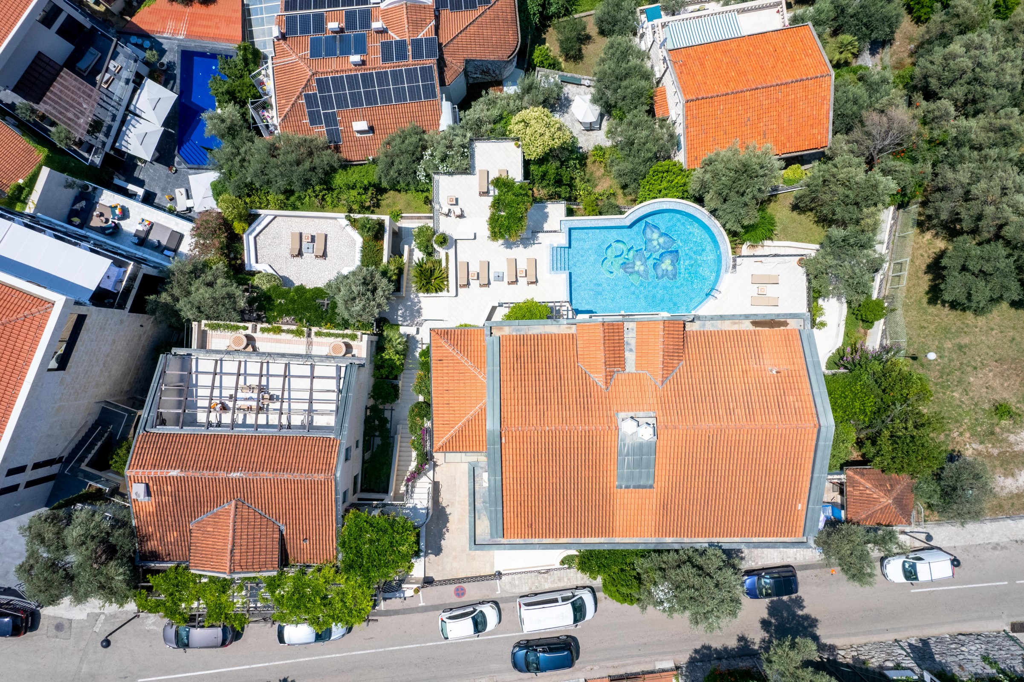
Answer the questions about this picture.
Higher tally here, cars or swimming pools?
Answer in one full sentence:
The cars outnumber the swimming pools.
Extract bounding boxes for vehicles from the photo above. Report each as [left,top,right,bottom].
[741,565,800,601]
[439,600,502,638]
[279,616,348,650]
[880,545,960,586]
[0,606,36,638]
[168,619,236,651]
[509,633,577,675]
[517,588,594,633]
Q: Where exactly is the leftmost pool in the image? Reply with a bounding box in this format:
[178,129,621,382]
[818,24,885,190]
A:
[174,45,243,169]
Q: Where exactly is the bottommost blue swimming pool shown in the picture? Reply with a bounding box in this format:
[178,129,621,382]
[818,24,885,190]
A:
[549,198,731,317]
